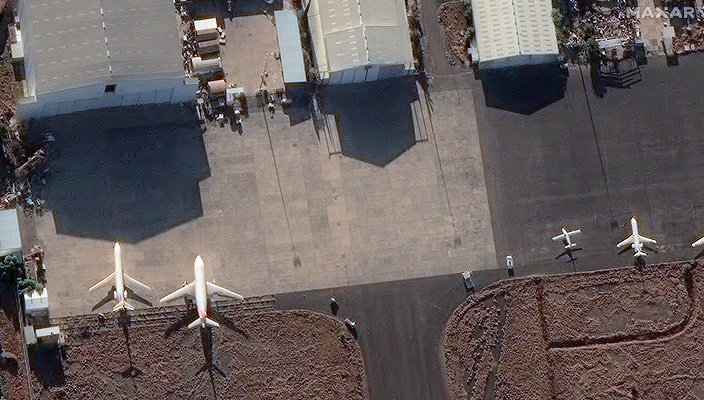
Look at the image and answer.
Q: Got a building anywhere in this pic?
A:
Yes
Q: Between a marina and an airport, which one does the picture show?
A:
airport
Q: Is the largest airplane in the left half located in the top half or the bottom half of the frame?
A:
bottom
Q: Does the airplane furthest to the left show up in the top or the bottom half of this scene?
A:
bottom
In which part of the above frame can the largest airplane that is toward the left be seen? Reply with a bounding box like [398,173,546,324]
[160,257,243,329]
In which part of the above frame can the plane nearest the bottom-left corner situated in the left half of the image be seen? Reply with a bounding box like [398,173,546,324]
[91,243,152,309]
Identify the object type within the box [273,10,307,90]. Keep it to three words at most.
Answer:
shed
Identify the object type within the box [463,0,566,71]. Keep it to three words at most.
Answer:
hangar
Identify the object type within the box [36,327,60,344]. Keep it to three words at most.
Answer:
building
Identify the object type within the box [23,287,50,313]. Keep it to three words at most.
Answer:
house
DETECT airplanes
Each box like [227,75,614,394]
[693,236,704,245]
[91,243,152,309]
[618,216,659,255]
[160,257,243,329]
[551,226,581,249]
